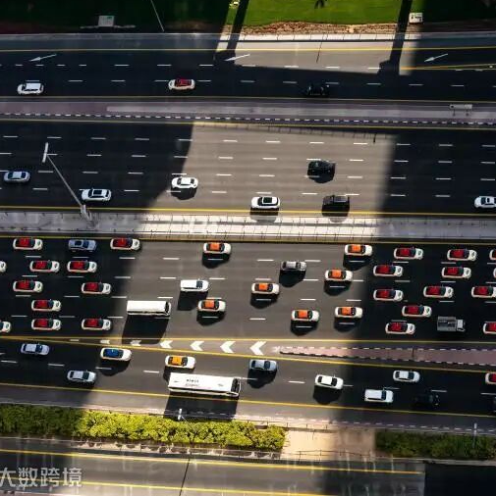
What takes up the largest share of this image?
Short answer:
paved ground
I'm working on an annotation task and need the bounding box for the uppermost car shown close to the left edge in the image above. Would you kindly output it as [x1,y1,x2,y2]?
[18,81,43,93]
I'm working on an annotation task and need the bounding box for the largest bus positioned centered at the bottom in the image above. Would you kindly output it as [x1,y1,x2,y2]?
[167,373,241,397]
